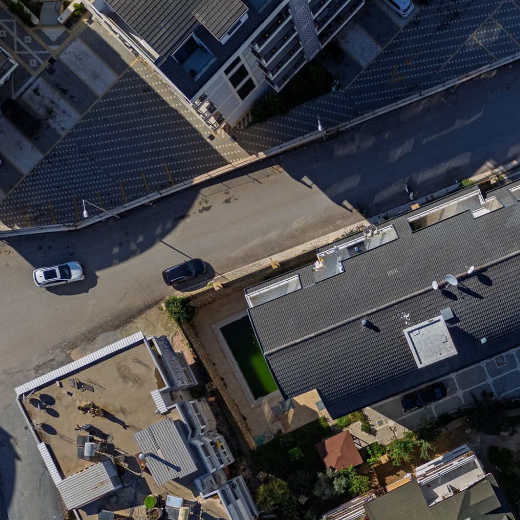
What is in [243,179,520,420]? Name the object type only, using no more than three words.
building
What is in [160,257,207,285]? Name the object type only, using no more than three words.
car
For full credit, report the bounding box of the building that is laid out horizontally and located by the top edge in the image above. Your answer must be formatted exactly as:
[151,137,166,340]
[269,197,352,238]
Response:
[78,0,373,142]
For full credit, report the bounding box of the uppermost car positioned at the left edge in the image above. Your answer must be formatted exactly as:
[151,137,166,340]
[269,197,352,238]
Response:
[2,99,45,140]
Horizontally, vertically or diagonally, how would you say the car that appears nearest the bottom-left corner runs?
horizontally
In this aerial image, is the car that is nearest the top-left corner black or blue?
black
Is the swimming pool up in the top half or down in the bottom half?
bottom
